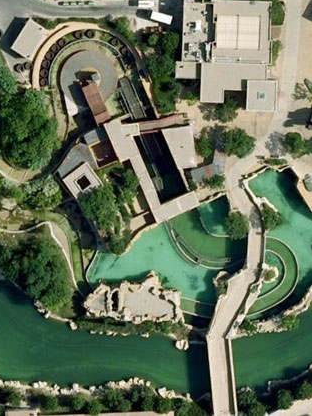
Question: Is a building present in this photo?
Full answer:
Yes, the frame does contain a building.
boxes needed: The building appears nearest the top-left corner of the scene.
[10,18,48,59]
